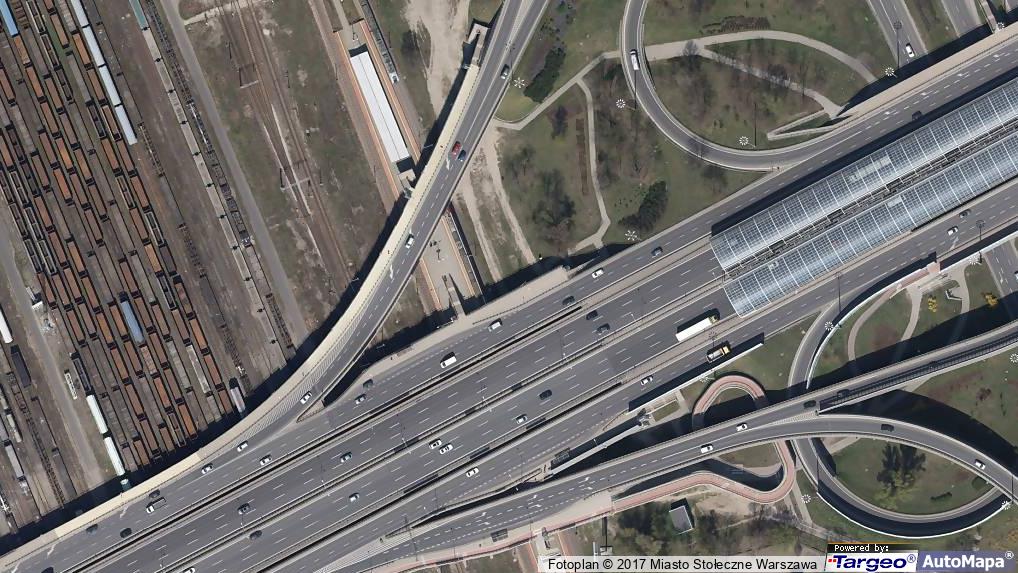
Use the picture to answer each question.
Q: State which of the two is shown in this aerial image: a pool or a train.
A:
train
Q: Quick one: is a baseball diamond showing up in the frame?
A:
No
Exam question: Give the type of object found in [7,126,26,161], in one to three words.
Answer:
rail car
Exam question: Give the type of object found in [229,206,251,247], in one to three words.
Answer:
rail car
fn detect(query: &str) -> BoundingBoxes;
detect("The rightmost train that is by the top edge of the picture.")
[361,0,401,83]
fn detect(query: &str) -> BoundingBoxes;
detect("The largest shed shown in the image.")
[668,505,694,533]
